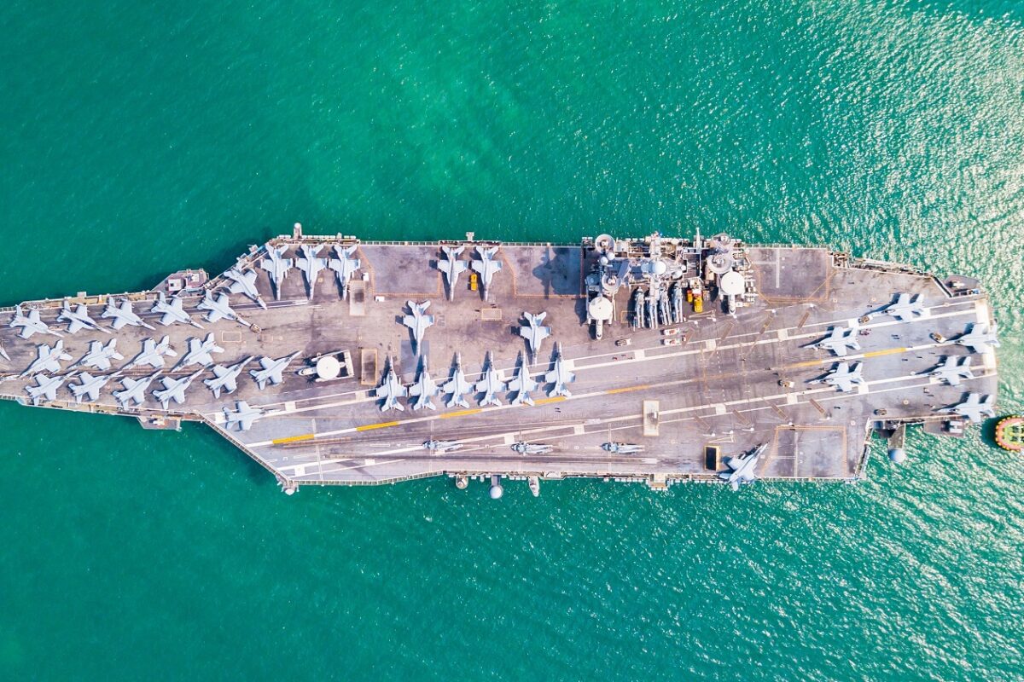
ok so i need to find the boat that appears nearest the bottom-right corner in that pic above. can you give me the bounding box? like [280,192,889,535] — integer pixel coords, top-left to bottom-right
[989,415,1024,453]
